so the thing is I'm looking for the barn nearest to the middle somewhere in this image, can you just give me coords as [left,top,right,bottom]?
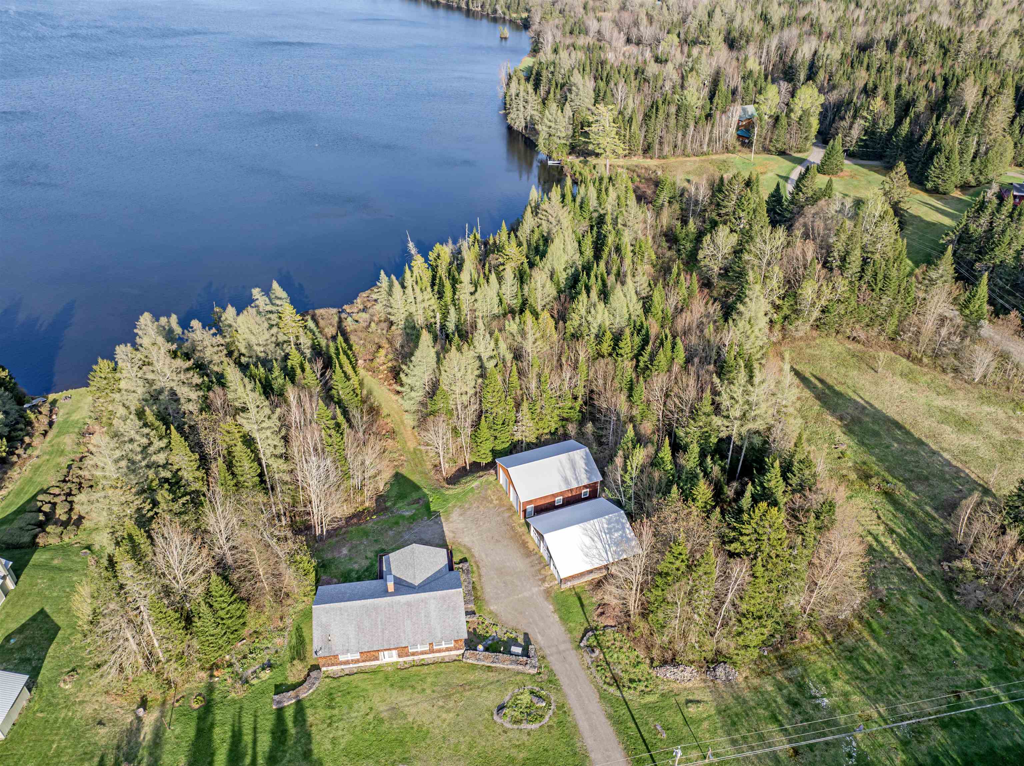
[495,440,603,521]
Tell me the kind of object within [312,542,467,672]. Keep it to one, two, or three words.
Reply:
house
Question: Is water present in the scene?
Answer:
Yes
